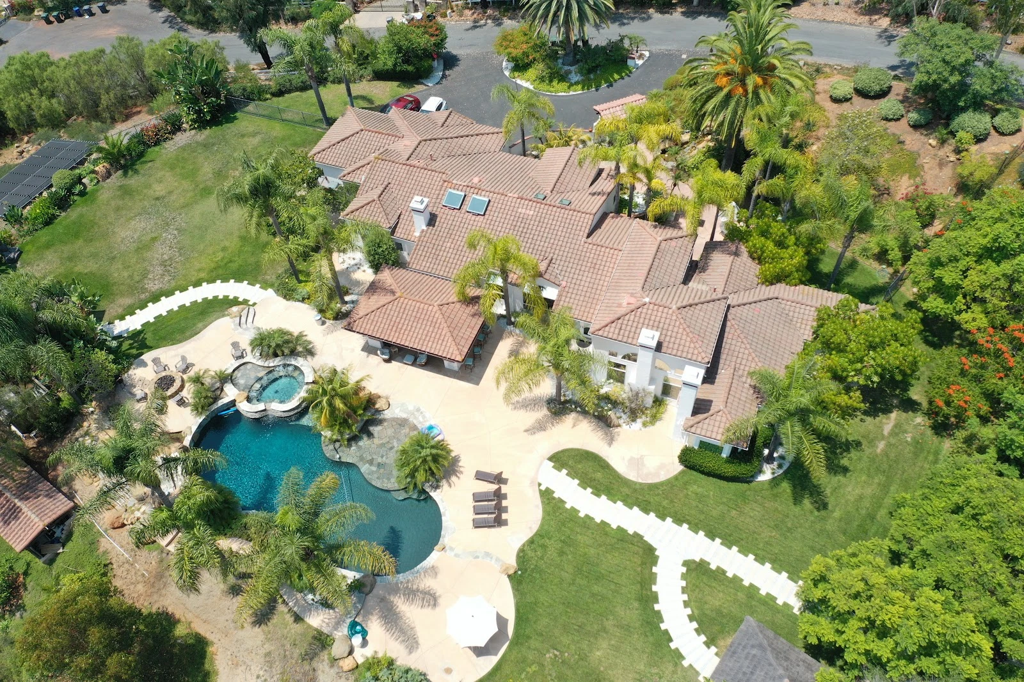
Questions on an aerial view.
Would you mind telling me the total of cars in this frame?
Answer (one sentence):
In total, 2 cars can be seen.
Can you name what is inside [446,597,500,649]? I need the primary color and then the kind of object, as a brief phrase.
white umbrella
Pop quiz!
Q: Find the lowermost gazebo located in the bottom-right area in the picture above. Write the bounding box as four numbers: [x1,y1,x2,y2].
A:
[711,615,841,682]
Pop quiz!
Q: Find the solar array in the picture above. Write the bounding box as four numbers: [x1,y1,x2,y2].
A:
[0,140,90,217]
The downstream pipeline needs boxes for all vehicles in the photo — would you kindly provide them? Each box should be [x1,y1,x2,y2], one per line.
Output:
[418,94,450,114]
[394,92,428,113]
